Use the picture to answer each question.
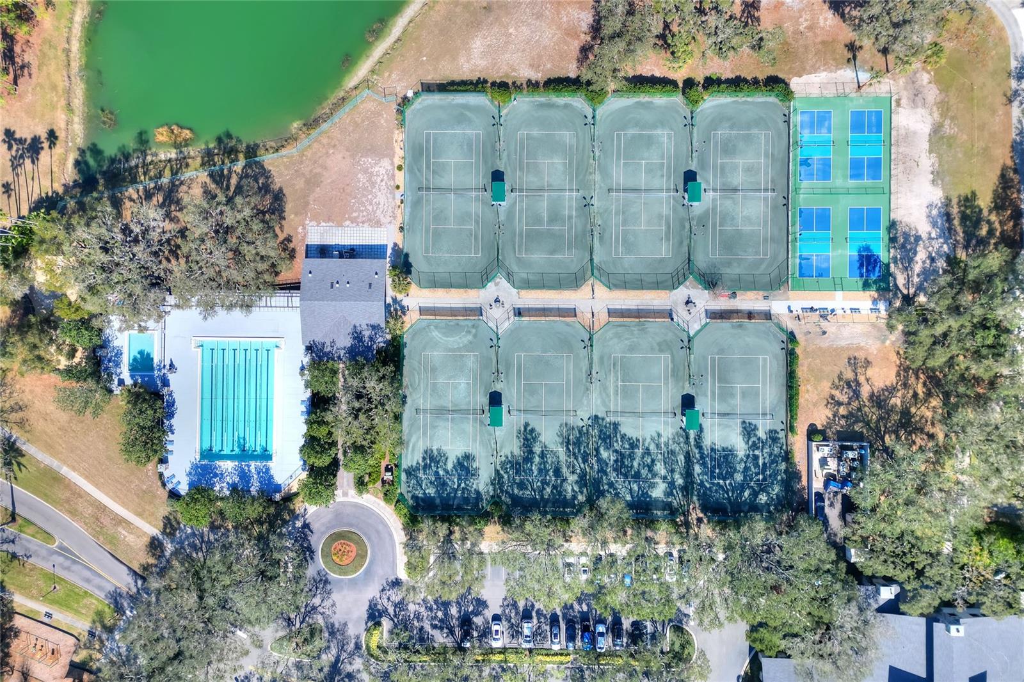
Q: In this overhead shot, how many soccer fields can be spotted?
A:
0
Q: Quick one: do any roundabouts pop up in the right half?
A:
No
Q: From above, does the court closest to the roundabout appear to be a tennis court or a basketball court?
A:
tennis court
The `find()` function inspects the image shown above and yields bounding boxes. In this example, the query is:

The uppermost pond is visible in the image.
[98,0,400,149]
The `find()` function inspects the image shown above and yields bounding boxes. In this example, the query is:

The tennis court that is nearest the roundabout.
[400,320,496,514]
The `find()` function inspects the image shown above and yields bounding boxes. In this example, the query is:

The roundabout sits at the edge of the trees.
[319,528,369,577]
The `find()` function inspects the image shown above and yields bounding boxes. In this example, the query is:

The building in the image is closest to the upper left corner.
[300,259,388,362]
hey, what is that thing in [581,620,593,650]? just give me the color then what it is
blue vehicle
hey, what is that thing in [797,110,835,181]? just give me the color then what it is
blue sports court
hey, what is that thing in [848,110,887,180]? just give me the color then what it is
blue sports court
